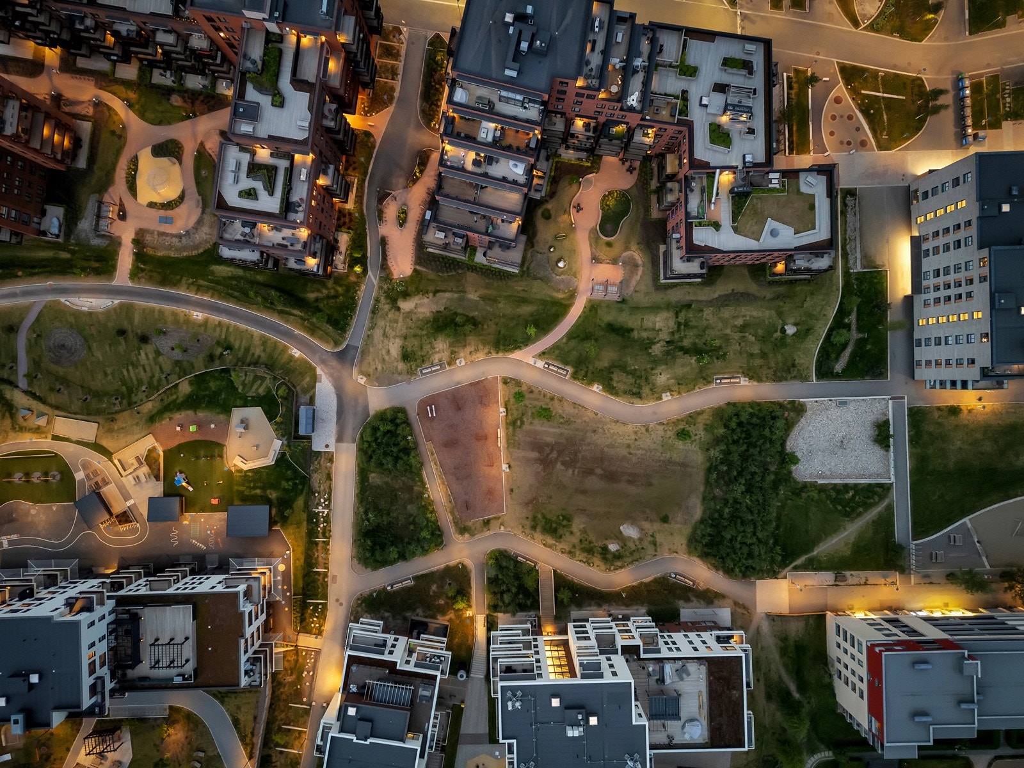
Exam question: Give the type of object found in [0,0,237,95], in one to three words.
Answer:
building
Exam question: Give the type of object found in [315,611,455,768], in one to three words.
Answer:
building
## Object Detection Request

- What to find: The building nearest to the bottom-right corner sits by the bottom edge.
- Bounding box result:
[827,610,1024,759]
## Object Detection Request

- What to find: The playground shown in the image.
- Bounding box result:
[0,442,290,632]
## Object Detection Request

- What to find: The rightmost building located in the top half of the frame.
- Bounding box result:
[909,152,1024,393]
